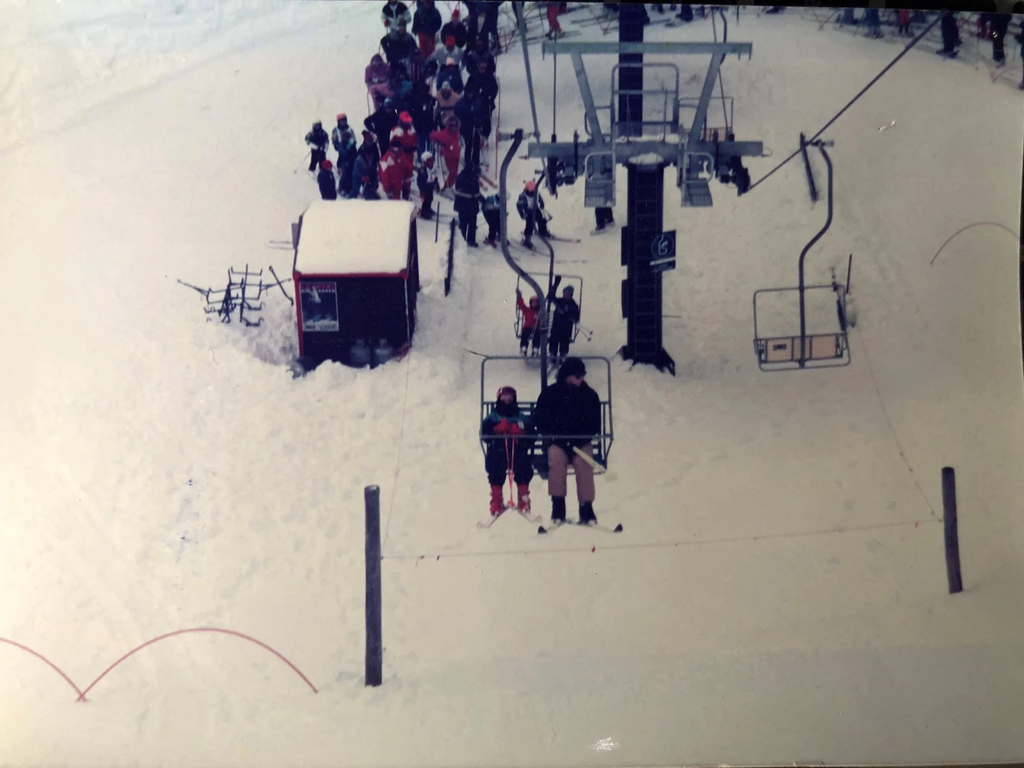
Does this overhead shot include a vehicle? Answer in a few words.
No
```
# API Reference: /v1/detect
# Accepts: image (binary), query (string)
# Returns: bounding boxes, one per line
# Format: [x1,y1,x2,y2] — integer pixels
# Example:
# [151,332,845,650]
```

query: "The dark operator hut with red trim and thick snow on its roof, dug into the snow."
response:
[286,204,419,381]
